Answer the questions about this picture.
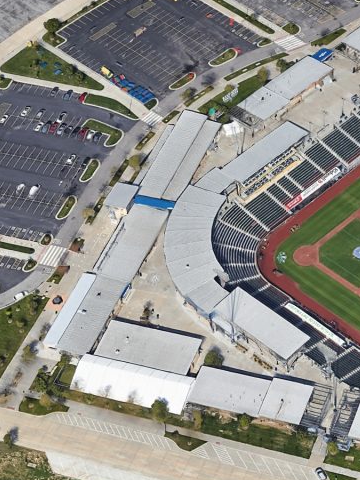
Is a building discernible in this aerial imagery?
Yes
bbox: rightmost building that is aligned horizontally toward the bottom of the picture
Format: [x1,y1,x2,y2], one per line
[188,366,314,431]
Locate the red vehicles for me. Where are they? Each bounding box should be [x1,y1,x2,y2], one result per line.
[77,93,88,103]
[78,128,89,139]
[49,123,59,133]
